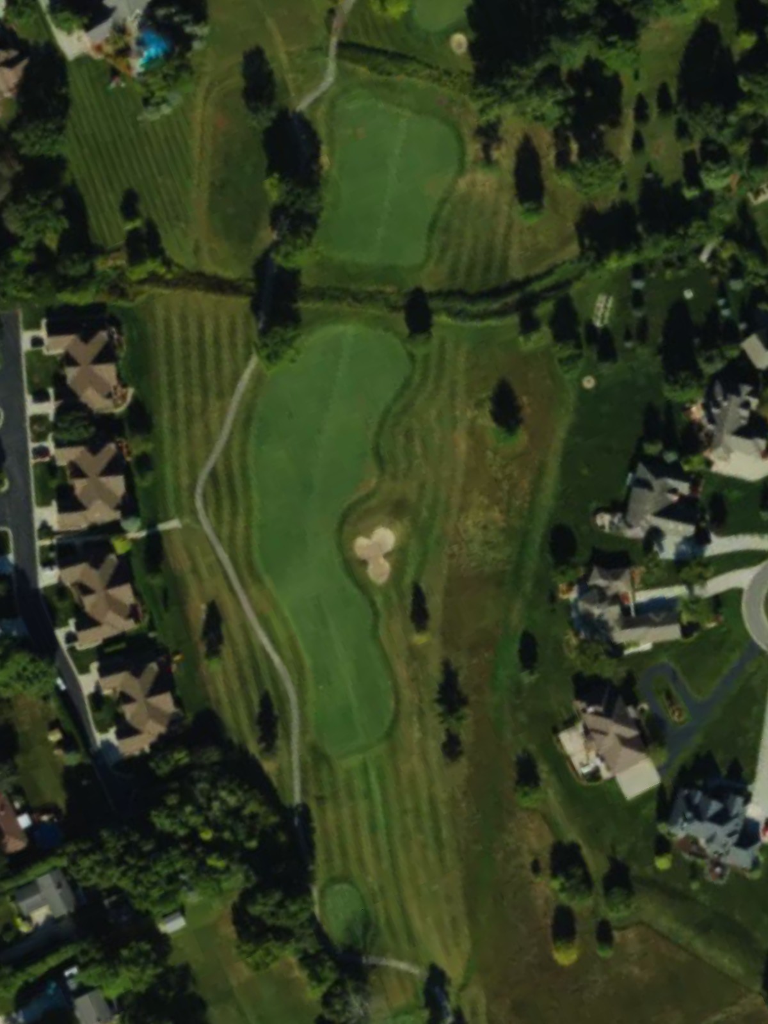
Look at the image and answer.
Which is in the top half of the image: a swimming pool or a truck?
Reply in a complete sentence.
Looking in the top half of the image, you will find a swimming pool.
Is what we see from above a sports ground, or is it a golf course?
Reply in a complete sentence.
It's a golf course.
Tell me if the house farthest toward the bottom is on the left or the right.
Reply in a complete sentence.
The house farthest toward the bottom sits on the left side.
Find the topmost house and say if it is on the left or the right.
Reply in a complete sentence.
The topmost house is on the left side of the image.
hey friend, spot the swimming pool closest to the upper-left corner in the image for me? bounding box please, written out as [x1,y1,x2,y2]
[138,30,171,68]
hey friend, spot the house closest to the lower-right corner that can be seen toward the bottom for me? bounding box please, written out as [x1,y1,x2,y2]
[668,786,764,863]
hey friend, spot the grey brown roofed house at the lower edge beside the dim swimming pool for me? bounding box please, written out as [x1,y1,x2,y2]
[72,987,113,1024]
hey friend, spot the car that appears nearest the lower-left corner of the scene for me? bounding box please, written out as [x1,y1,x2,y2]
[53,676,66,692]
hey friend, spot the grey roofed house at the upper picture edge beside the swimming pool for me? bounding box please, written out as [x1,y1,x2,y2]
[82,0,159,45]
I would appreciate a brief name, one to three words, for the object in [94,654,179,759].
house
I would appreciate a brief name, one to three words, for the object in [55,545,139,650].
house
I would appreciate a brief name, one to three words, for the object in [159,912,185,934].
shed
